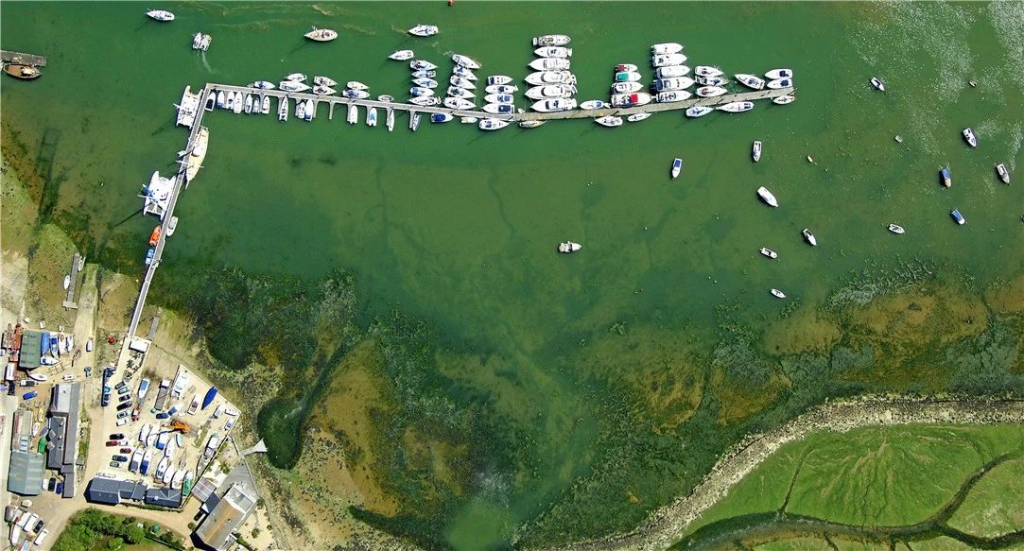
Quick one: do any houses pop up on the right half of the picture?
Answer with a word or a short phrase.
No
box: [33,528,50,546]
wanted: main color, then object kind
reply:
white vehicle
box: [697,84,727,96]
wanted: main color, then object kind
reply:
white boat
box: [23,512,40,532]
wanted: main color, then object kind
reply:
white camper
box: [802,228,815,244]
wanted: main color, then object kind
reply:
white boat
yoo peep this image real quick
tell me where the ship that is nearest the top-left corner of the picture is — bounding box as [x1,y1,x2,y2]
[2,63,41,77]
